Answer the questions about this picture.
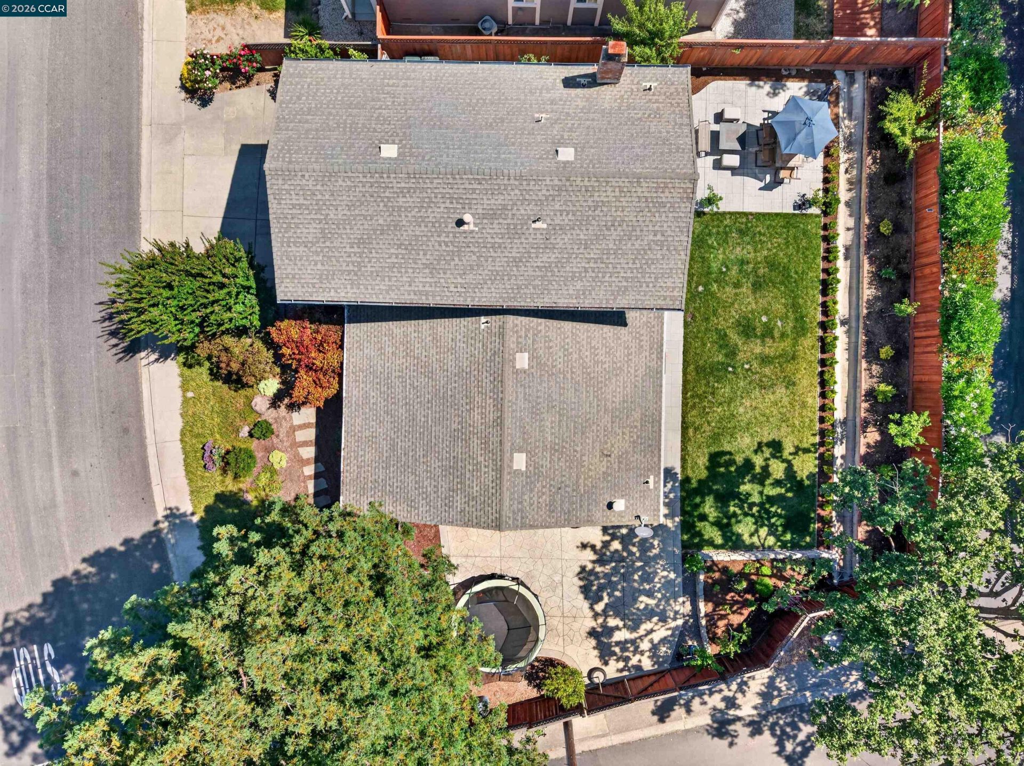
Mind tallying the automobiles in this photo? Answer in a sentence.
I count no automobiles.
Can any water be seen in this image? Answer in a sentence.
No, there's no water in this view.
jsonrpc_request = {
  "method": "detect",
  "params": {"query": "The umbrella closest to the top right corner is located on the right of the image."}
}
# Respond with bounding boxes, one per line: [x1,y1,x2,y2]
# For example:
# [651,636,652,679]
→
[807,78,842,102]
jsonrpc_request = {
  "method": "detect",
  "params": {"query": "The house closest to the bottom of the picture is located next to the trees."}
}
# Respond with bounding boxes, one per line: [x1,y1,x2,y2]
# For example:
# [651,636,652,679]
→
[263,38,700,531]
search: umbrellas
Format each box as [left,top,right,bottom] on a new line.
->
[807,78,842,102]
[772,96,839,159]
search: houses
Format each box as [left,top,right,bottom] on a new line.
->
[340,0,727,26]
[263,38,700,531]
